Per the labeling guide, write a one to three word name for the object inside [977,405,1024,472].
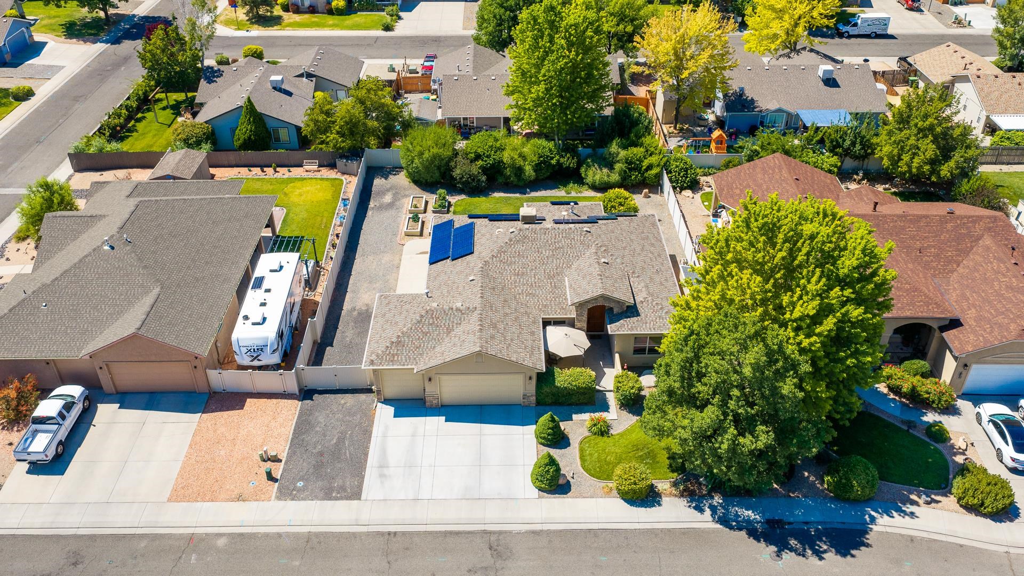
car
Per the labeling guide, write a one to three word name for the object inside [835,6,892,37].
truck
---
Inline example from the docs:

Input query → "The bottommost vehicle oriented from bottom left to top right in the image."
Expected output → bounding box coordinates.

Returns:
[9,387,90,471]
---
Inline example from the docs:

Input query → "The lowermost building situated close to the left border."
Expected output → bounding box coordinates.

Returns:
[0,176,277,396]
